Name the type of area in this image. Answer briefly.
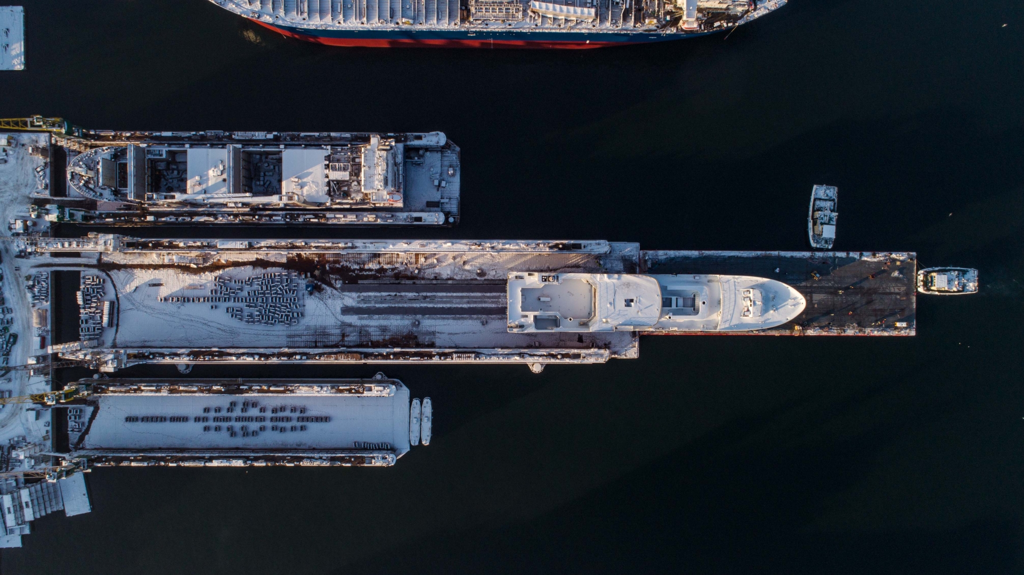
port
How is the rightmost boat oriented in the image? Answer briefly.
horizontally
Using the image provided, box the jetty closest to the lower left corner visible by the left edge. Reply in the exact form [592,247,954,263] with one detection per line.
[0,477,64,547]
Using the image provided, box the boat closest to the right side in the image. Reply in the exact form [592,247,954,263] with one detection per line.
[916,266,978,295]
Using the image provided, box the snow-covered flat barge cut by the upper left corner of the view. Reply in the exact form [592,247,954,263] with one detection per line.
[0,6,28,71]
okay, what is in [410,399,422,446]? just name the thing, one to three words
boat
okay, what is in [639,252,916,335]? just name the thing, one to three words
ship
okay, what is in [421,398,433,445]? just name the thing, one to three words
boat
